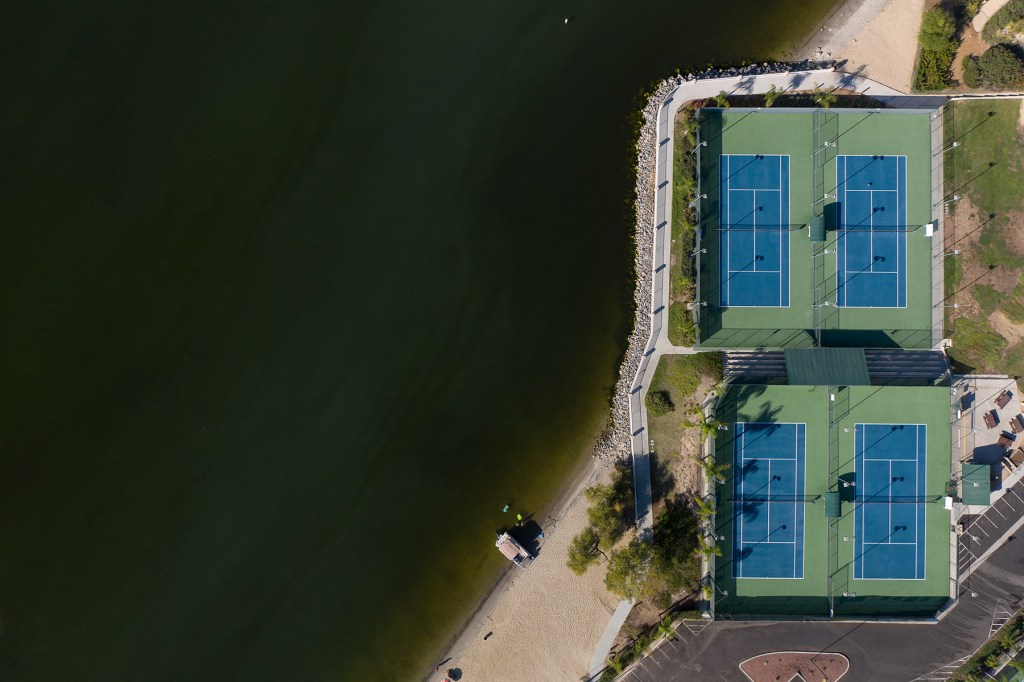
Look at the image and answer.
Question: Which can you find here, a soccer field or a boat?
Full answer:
Of the two, only a boat appears.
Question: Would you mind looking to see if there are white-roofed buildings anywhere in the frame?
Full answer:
No, this view has no white-roofed building in it.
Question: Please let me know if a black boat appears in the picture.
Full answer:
No, the scene contains no black boat.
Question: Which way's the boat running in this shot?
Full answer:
Seen from above, the boat lies on a diagonal.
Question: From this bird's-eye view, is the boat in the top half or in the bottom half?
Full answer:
The boat sits in the bottom half of the picture.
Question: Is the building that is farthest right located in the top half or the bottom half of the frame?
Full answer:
Seen from above, the building that is farthest right lies in the bottom half of the view.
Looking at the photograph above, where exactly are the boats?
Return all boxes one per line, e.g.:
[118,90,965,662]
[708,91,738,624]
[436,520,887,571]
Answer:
[496,532,534,568]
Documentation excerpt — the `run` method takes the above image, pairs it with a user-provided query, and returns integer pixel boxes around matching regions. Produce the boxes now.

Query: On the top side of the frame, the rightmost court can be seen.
[813,114,931,347]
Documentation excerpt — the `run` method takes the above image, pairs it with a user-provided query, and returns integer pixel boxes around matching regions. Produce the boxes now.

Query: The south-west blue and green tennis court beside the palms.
[710,384,829,615]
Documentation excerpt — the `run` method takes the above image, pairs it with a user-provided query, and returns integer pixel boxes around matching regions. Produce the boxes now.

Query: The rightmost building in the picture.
[953,462,990,505]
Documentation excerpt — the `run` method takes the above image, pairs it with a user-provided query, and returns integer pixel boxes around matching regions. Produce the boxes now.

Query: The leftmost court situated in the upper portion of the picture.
[695,114,813,347]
